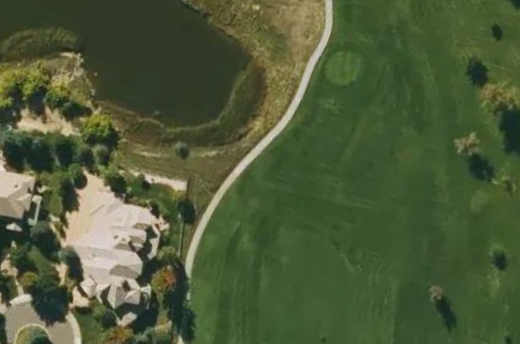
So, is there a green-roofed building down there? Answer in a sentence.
No, there appears to be no green-roofed building in this shot.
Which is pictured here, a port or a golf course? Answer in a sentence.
The area seen from above is a golf course.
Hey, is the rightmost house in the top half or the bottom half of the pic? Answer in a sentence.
The rightmost house sits in the bottom half of the picture.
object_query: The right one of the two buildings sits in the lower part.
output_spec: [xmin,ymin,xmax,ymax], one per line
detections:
[76,197,156,328]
